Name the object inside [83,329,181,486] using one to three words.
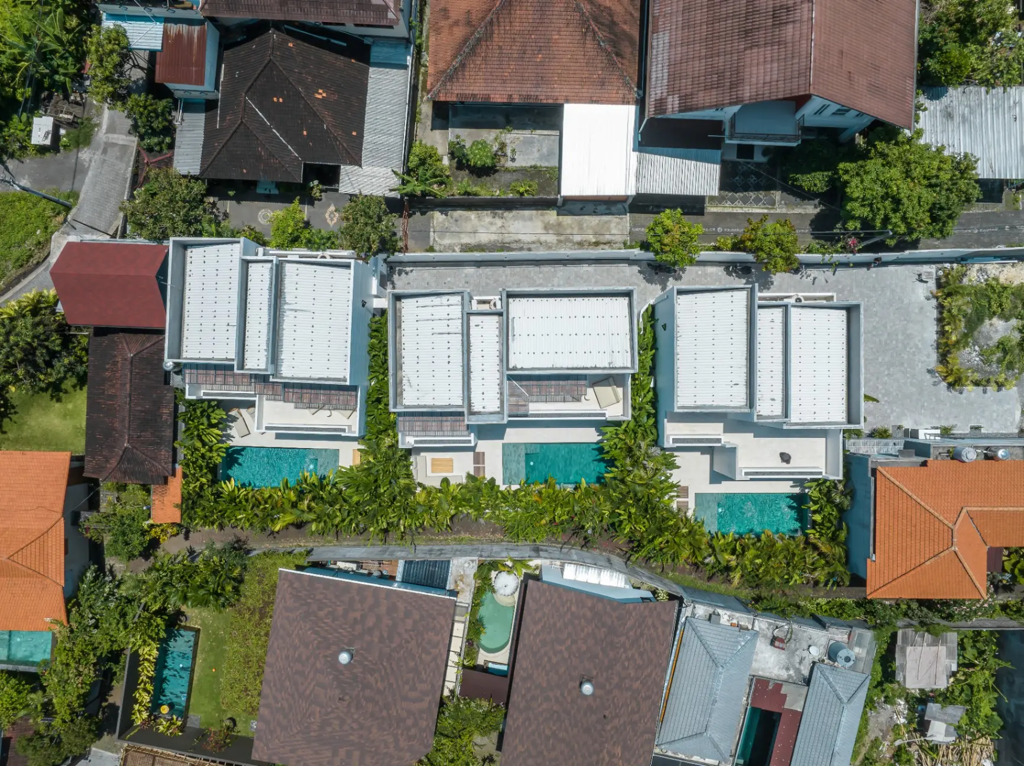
house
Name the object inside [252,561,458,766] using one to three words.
house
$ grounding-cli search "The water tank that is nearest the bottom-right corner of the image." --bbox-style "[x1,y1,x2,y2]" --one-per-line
[823,638,855,668]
